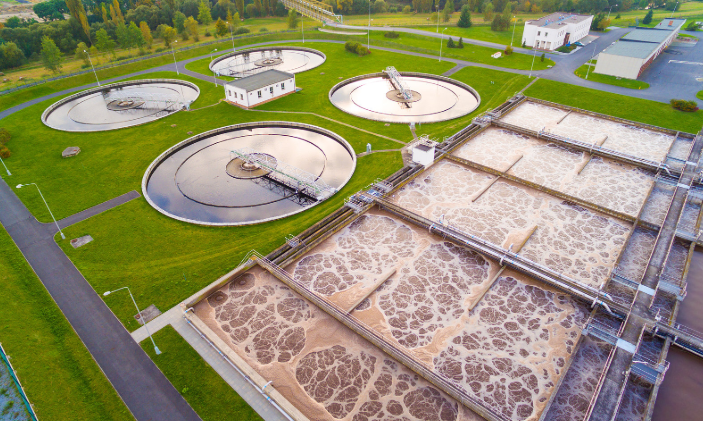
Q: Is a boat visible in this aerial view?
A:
No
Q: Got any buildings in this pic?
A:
Yes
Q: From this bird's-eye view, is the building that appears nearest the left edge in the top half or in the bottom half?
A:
top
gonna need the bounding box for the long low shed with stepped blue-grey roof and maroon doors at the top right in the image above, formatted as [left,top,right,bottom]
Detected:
[593,14,685,80]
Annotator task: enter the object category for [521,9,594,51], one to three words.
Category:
building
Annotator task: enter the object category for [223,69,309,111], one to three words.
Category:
building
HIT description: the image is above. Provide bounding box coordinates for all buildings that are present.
[223,69,309,111]
[593,14,685,80]
[410,138,437,166]
[521,9,594,51]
